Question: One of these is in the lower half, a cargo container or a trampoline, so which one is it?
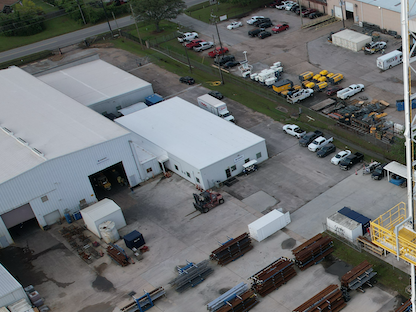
cargo container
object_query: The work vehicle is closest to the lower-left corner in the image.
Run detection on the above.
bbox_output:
[188,191,221,213]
